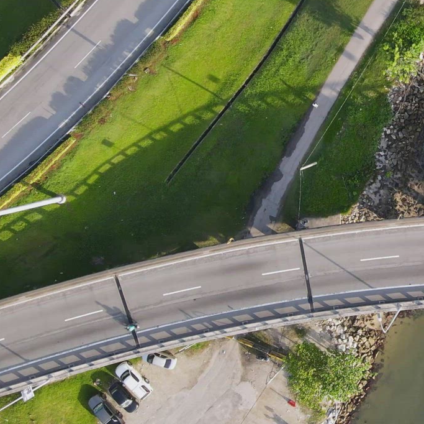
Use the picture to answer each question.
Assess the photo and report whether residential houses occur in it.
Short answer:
No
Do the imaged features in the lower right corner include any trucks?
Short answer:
No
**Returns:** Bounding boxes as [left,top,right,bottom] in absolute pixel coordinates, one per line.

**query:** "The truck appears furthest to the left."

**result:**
[85,396,121,424]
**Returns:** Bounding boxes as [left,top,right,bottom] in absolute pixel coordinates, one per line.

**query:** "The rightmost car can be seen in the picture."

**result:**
[142,352,179,370]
